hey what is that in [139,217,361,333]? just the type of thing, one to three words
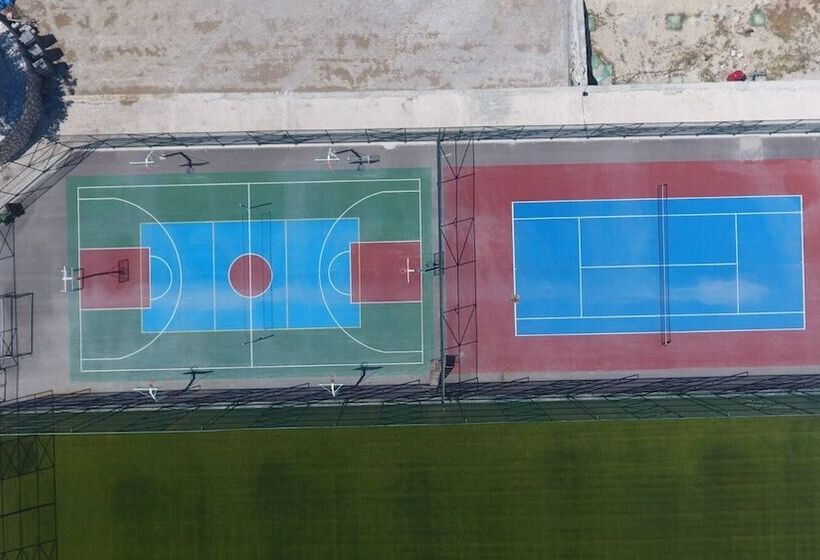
sports court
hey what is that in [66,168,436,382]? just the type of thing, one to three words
basketball court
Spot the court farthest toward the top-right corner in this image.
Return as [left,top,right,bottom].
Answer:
[445,158,820,376]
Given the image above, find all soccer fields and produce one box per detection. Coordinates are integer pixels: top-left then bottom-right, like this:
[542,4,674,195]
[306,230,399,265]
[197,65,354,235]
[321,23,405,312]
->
[0,397,820,560]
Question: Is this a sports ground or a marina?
sports ground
